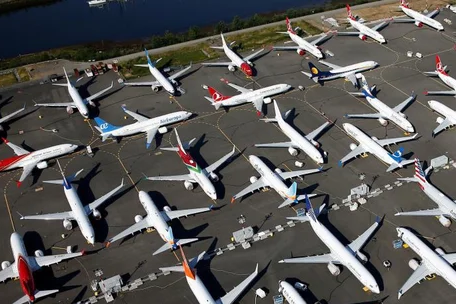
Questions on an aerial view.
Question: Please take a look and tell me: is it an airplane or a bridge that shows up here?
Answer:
airplane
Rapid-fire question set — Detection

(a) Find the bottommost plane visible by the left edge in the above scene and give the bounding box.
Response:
[0,233,85,304]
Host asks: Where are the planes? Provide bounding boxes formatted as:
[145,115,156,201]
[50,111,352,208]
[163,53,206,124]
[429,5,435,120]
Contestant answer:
[397,228,456,296]
[120,50,192,97]
[251,102,330,165]
[205,78,290,114]
[0,136,78,185]
[0,104,27,134]
[161,245,260,304]
[0,233,85,304]
[395,160,456,230]
[94,105,192,146]
[198,33,265,79]
[144,131,235,200]
[16,163,126,245]
[344,77,414,135]
[104,192,213,254]
[31,69,113,120]
[280,196,379,293]
[339,124,416,170]
[232,156,322,207]
[390,0,443,33]
[304,56,378,88]
[333,5,387,46]
[269,19,328,59]
[424,57,456,97]
[427,101,456,135]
